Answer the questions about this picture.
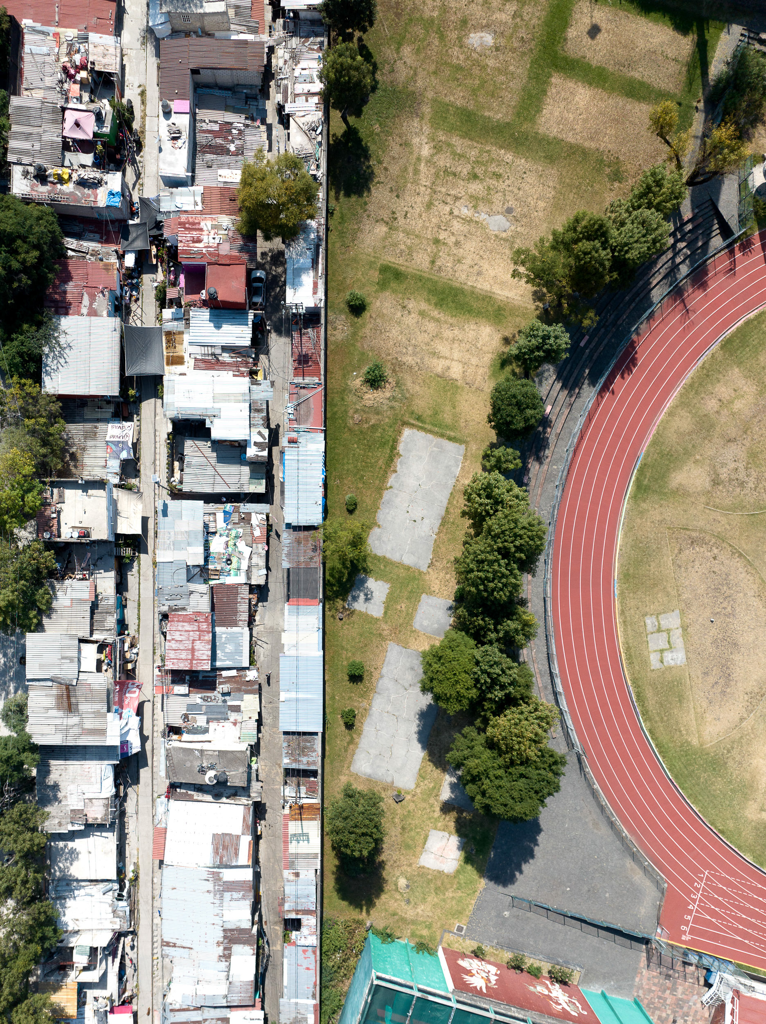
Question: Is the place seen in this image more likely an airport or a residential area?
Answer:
residential area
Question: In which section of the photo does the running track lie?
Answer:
right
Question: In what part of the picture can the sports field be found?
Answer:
right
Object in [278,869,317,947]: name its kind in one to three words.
house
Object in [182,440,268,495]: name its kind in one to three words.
house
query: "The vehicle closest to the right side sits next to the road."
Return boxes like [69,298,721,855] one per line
[249,270,266,310]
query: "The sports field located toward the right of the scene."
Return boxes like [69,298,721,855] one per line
[617,311,766,873]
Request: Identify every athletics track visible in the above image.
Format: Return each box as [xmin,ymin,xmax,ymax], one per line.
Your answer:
[548,237,766,972]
